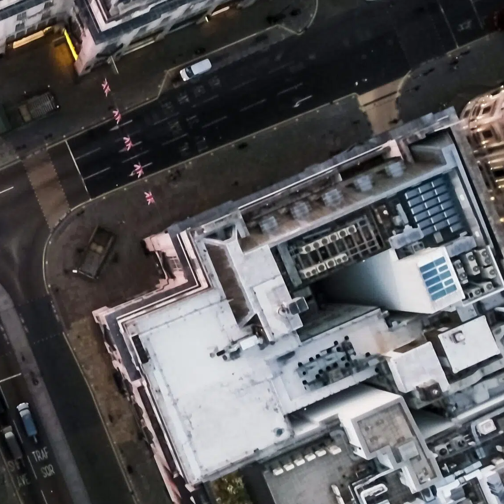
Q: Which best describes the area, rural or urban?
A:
urban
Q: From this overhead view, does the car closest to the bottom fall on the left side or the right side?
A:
left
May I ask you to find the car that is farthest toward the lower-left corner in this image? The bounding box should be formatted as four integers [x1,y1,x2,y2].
[0,423,23,462]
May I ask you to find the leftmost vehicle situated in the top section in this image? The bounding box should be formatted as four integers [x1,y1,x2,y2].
[176,54,218,84]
